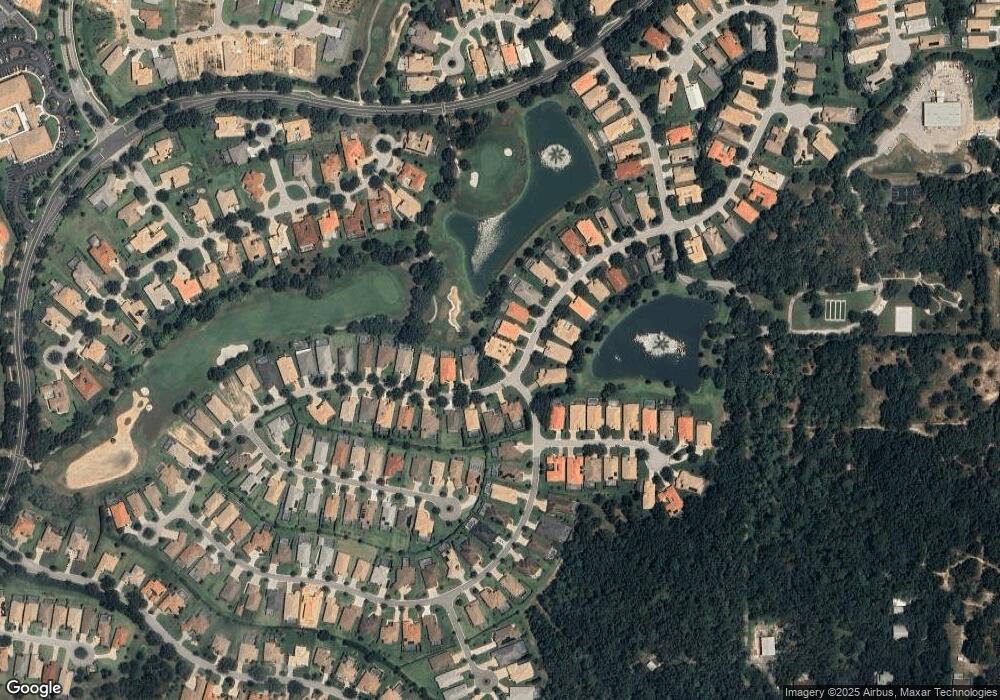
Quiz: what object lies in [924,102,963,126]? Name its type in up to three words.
building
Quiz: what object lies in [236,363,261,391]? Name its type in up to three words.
house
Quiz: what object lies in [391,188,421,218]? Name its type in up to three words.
house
